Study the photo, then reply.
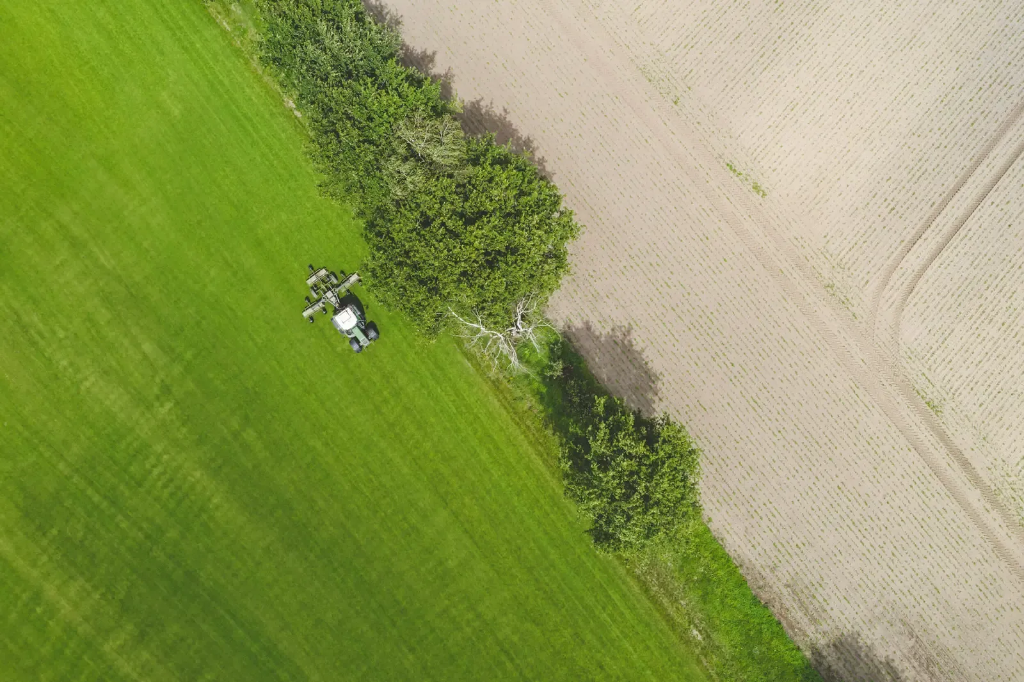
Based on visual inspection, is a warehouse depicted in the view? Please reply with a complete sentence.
No, there is no warehouse in the image.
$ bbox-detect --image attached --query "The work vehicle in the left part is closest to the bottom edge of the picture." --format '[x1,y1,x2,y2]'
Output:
[330,300,380,355]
